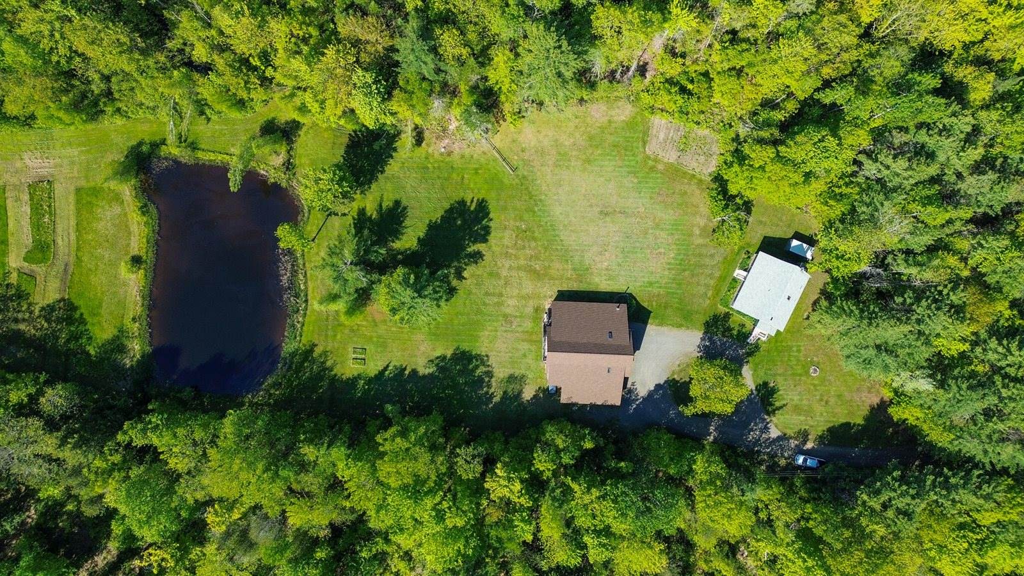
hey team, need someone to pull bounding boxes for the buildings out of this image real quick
[784,240,808,258]
[540,298,634,407]
[728,251,811,345]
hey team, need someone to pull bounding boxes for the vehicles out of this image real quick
[792,452,826,469]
